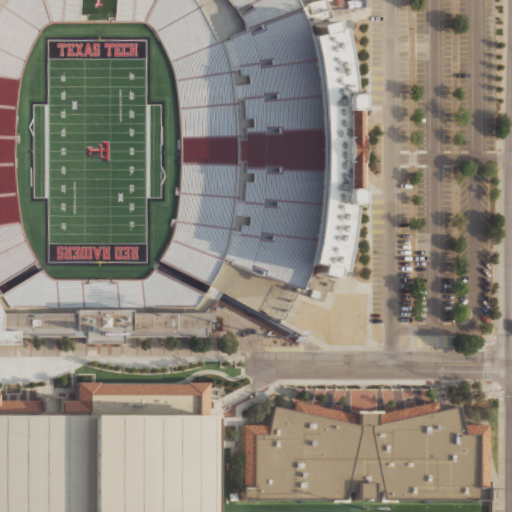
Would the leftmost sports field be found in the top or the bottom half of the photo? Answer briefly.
top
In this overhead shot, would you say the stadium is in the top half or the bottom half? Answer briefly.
top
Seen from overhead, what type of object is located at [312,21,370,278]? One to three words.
building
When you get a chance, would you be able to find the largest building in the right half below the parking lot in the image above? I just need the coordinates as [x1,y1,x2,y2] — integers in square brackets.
[245,398,491,503]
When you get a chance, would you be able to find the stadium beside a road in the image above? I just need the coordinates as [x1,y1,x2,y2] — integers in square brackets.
[0,0,326,312]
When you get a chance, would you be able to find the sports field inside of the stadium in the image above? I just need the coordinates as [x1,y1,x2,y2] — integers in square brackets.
[16,22,182,282]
